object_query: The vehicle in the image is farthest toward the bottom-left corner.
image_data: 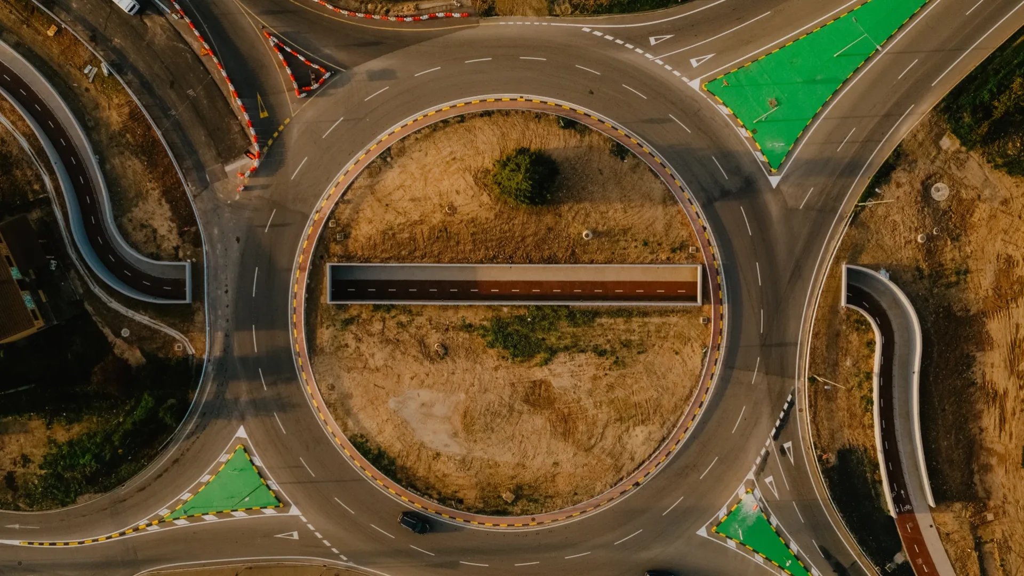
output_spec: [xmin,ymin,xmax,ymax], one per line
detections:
[397,510,430,534]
